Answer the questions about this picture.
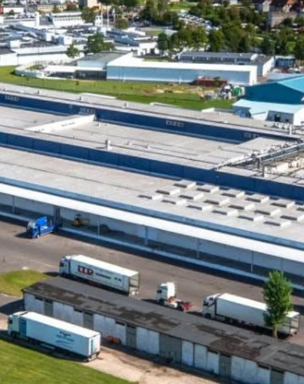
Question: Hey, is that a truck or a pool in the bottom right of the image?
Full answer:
You can see a truck in the bottom right of the image.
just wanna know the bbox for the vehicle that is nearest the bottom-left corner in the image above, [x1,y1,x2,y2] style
[8,316,99,358]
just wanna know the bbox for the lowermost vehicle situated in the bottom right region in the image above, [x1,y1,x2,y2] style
[203,296,300,335]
